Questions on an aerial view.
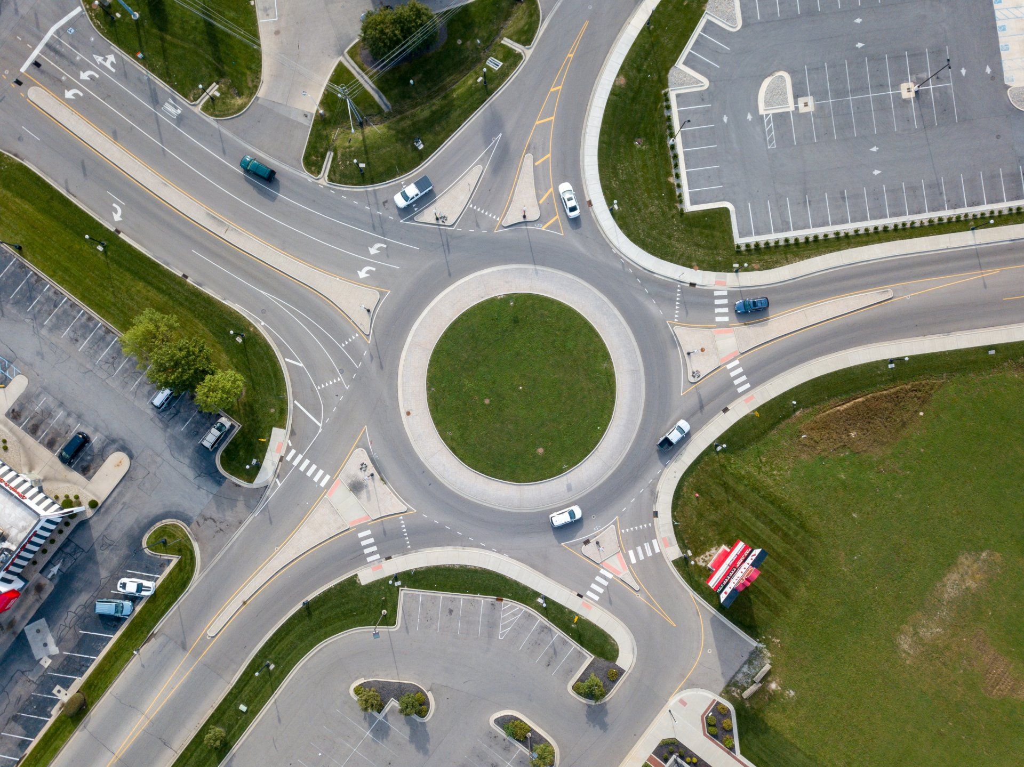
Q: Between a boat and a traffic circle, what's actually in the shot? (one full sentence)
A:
Visible in the photo is a traffic circle.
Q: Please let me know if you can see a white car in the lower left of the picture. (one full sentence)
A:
Yes, a white car appears in the lower left of the picture.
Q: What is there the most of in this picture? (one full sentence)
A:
The scene is dominated by paved ground.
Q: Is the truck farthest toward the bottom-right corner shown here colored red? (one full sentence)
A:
No, from above the truck farthest toward the bottom-right corner looks white.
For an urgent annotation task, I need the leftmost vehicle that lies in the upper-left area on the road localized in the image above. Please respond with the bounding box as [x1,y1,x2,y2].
[241,157,278,183]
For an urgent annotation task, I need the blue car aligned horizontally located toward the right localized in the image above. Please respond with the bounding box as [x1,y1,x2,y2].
[733,297,769,314]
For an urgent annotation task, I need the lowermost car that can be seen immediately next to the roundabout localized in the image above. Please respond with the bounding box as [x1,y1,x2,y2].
[548,505,582,528]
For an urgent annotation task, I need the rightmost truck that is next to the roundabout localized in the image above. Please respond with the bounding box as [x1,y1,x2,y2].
[653,418,691,455]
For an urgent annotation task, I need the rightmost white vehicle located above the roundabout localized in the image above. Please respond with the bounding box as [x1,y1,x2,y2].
[559,182,580,219]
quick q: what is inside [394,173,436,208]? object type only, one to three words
truck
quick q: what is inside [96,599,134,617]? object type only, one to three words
car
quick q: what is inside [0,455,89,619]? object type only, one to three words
building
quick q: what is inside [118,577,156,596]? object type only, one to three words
car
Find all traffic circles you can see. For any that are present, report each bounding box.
[398,264,645,512]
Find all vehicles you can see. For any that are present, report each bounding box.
[241,157,278,183]
[201,417,232,451]
[653,418,691,455]
[548,505,582,528]
[394,173,436,208]
[96,599,134,617]
[118,577,156,596]
[60,431,92,465]
[148,382,175,410]
[733,297,769,314]
[559,182,580,219]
